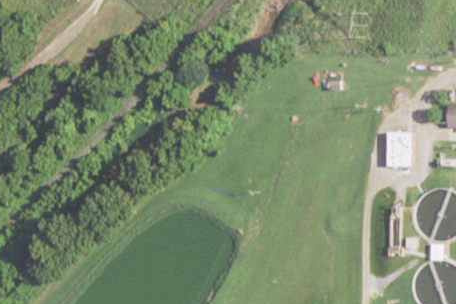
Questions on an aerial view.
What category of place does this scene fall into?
industrial area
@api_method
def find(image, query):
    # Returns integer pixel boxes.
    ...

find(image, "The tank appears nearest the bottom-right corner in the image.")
[412,260,456,304]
